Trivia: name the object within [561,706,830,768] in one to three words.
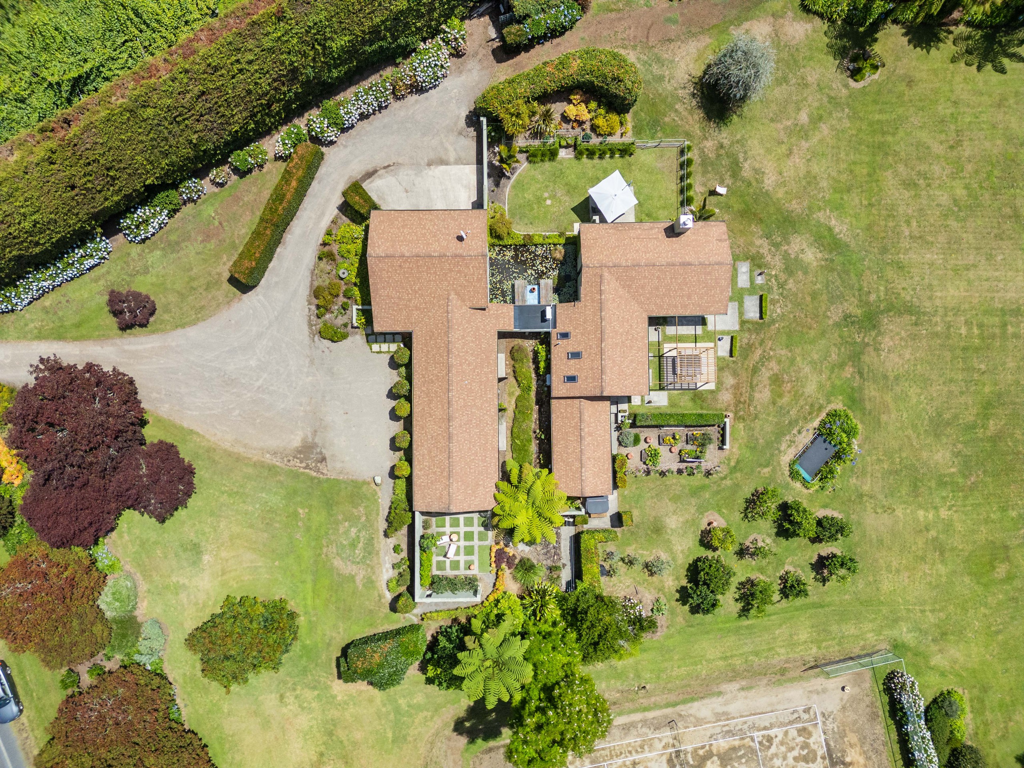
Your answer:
tennis court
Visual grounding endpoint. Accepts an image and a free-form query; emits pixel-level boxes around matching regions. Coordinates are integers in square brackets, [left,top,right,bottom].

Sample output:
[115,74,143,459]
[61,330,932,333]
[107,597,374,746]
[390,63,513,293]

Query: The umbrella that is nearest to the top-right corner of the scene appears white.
[588,170,638,219]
